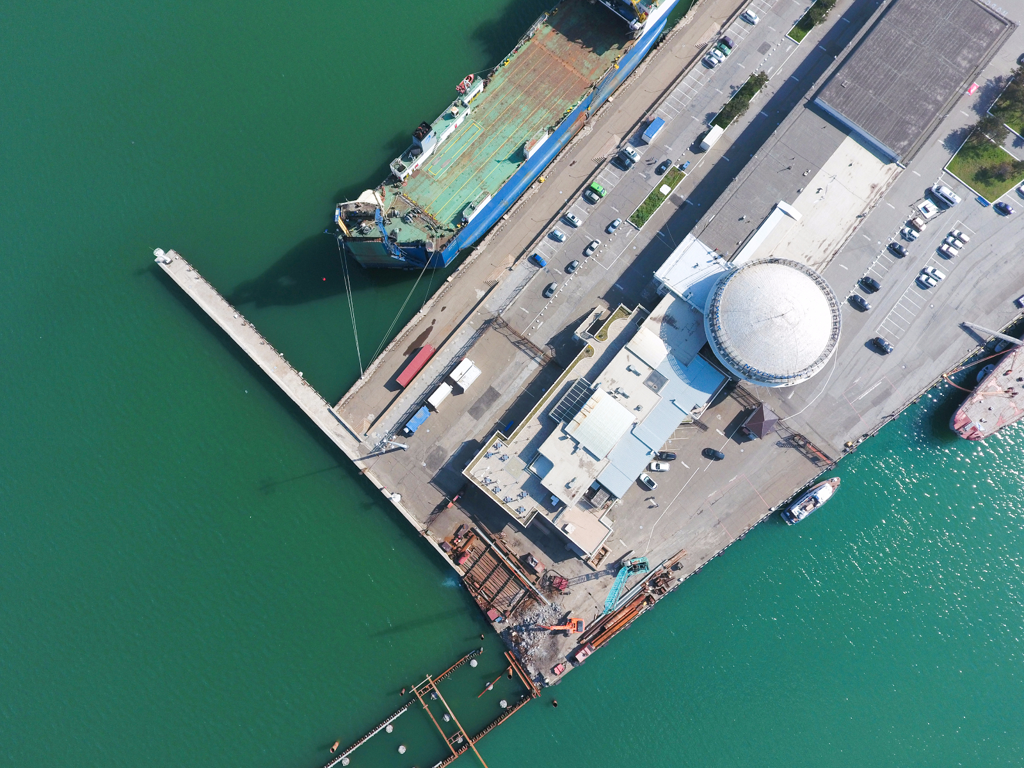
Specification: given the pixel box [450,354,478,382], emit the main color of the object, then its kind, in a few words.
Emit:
white truck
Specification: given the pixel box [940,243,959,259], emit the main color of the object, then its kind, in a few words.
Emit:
white car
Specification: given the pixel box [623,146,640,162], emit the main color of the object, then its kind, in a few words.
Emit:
white car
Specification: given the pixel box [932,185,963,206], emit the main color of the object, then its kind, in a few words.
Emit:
white vehicle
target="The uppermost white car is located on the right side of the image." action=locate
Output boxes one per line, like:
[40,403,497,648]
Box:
[743,9,760,24]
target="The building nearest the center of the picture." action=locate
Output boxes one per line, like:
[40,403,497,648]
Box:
[461,292,731,557]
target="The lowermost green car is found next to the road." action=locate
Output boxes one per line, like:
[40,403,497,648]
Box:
[590,181,606,197]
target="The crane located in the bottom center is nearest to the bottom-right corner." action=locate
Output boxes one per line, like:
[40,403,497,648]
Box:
[584,555,651,613]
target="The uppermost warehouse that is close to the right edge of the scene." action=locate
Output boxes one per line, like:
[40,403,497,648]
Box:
[801,0,1017,168]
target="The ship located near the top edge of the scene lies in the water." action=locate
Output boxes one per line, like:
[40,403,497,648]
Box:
[335,0,688,268]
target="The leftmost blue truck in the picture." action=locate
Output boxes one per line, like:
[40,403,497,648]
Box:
[404,407,432,436]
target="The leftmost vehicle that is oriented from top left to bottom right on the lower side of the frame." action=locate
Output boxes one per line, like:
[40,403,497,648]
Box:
[522,550,548,575]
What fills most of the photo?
water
